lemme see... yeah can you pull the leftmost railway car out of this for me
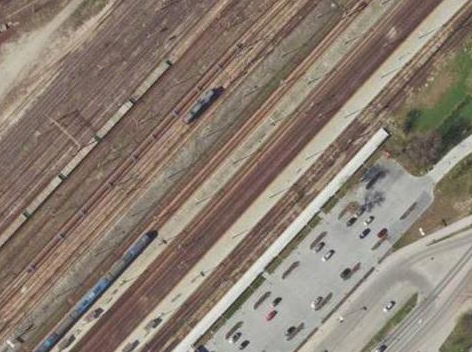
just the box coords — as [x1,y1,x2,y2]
[0,213,30,253]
